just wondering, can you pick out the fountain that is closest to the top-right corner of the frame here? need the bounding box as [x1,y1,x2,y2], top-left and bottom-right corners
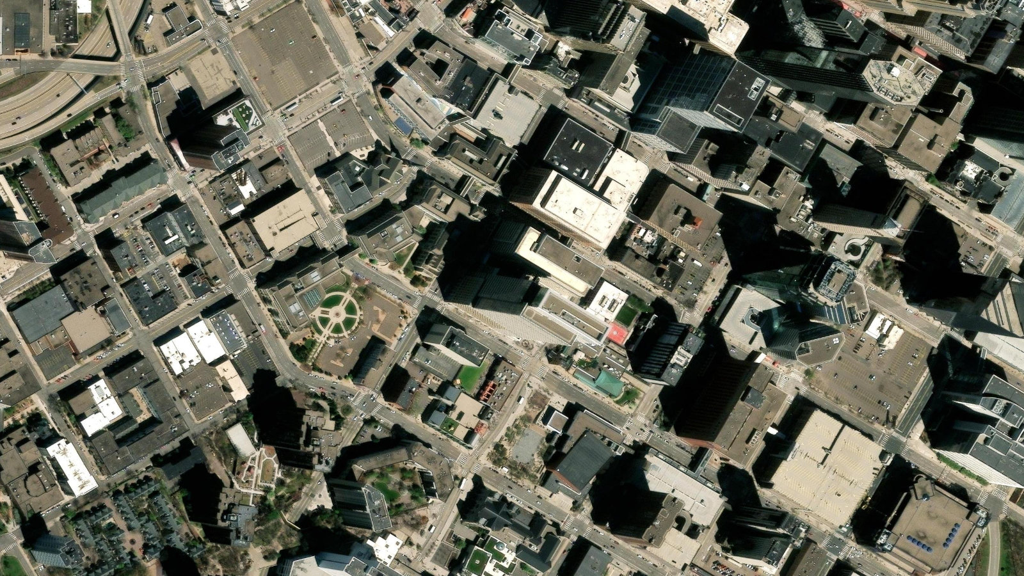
[844,239,865,259]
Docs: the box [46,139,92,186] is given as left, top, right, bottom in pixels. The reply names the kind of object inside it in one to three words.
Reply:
building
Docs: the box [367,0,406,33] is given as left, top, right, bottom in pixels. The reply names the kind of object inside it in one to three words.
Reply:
building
